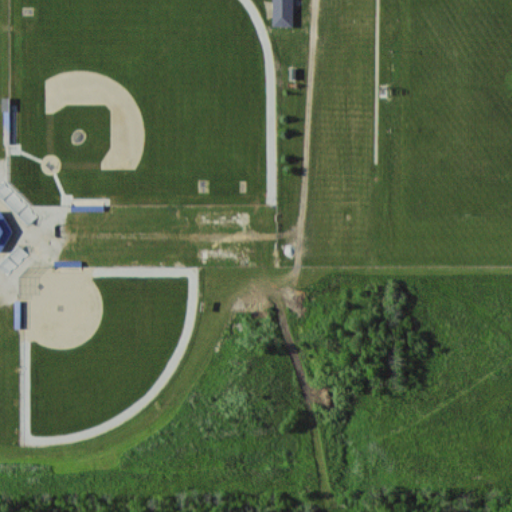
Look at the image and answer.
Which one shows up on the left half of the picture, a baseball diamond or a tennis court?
baseball diamond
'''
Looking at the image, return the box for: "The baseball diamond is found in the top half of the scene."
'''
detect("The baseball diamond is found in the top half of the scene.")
[10,0,276,206]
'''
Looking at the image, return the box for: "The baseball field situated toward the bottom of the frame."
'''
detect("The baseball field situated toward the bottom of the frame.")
[20,267,198,448]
